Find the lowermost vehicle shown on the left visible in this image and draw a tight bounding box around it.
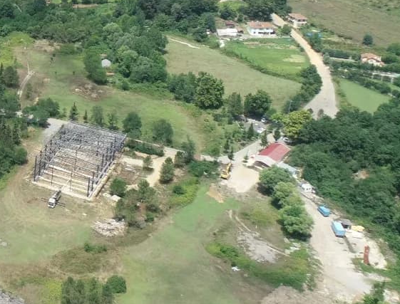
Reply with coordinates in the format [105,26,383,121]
[40,185,67,204]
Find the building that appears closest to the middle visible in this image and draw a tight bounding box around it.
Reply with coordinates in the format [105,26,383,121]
[244,141,283,169]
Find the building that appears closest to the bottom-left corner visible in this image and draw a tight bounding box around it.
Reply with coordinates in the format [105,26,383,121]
[30,117,133,200]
